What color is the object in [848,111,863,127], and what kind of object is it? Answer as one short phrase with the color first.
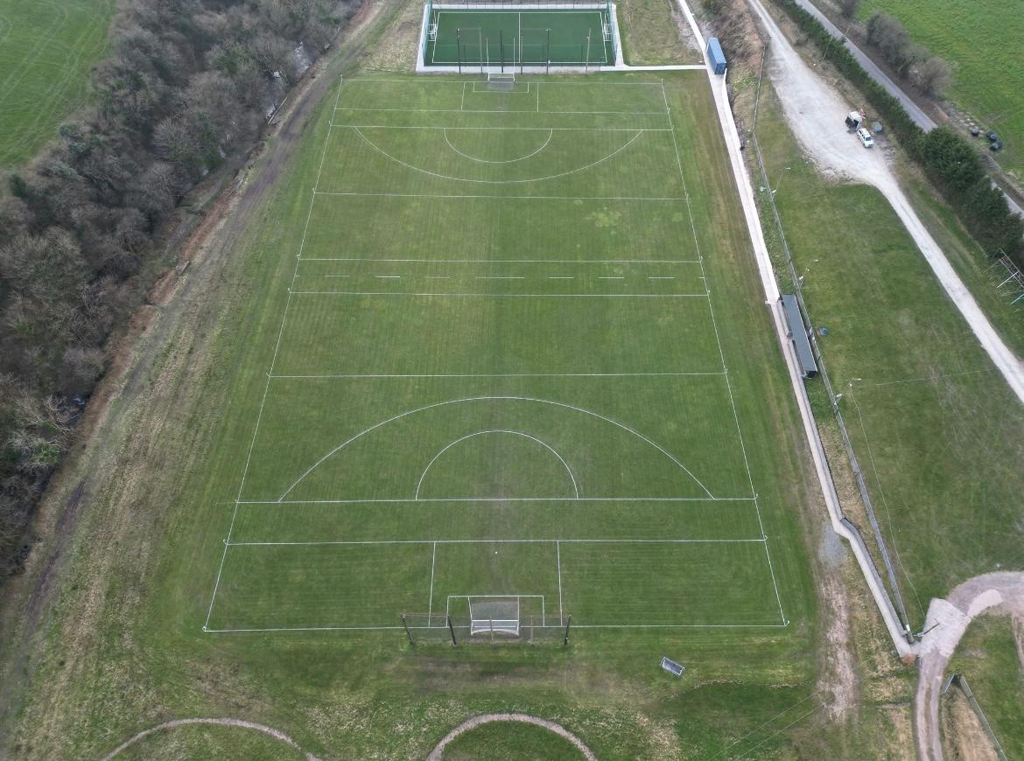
white vehicle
